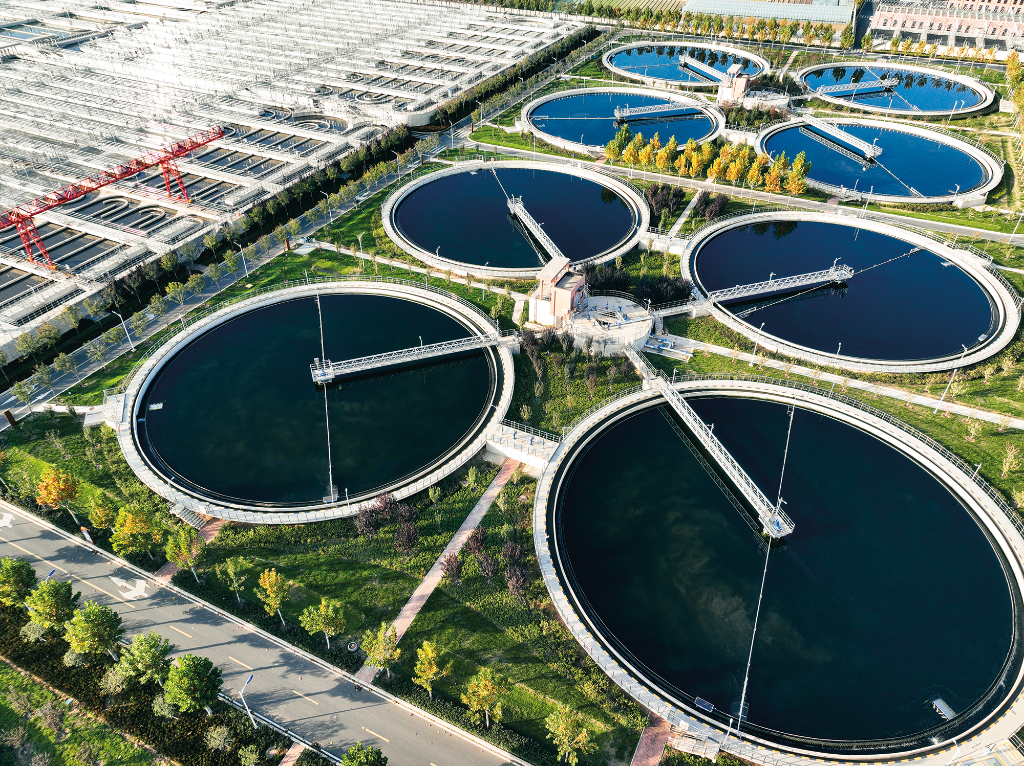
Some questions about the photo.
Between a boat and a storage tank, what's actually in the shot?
storage tank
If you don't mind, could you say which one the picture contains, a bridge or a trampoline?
bridge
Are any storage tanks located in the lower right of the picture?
Yes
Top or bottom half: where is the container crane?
top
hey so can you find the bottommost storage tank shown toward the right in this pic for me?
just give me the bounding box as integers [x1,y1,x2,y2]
[531,373,1024,766]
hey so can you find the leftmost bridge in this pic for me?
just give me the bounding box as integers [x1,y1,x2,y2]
[306,330,510,387]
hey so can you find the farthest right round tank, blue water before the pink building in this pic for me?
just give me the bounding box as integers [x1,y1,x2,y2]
[794,57,994,121]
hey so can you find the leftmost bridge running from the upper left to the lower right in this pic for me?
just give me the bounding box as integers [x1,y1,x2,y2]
[505,195,573,272]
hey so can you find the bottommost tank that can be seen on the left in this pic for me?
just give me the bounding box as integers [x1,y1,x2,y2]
[114,275,515,528]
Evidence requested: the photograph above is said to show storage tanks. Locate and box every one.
[752,112,1003,209]
[114,275,515,528]
[531,373,1024,766]
[680,205,1021,379]
[380,154,651,283]
[518,81,725,159]
[794,57,994,121]
[600,36,771,90]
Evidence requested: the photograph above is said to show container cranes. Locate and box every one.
[0,125,224,269]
